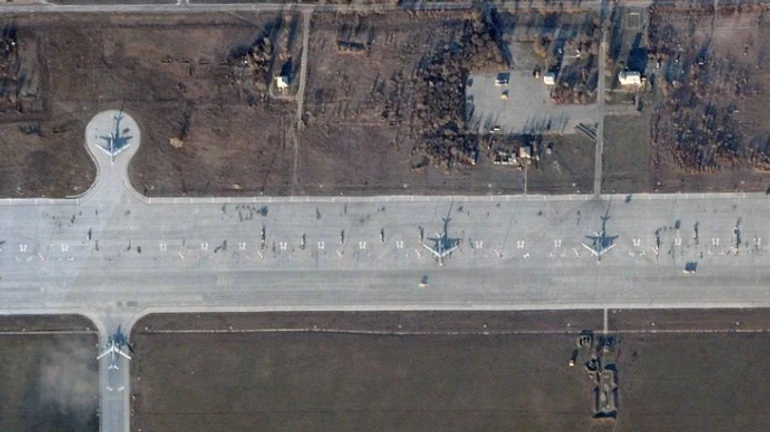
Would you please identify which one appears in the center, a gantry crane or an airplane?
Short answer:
airplane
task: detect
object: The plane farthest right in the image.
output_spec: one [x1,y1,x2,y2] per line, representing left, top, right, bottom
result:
[581,230,616,264]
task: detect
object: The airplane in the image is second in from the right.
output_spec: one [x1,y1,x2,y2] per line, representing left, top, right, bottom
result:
[422,233,457,266]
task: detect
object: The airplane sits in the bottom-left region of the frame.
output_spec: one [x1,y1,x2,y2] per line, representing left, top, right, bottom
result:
[95,340,130,372]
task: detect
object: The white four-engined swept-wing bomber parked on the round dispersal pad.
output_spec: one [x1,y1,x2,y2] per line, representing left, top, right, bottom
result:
[95,134,129,165]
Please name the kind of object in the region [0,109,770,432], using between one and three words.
airport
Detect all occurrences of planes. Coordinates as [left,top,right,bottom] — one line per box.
[422,233,457,266]
[95,134,129,165]
[95,340,130,372]
[581,230,616,264]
